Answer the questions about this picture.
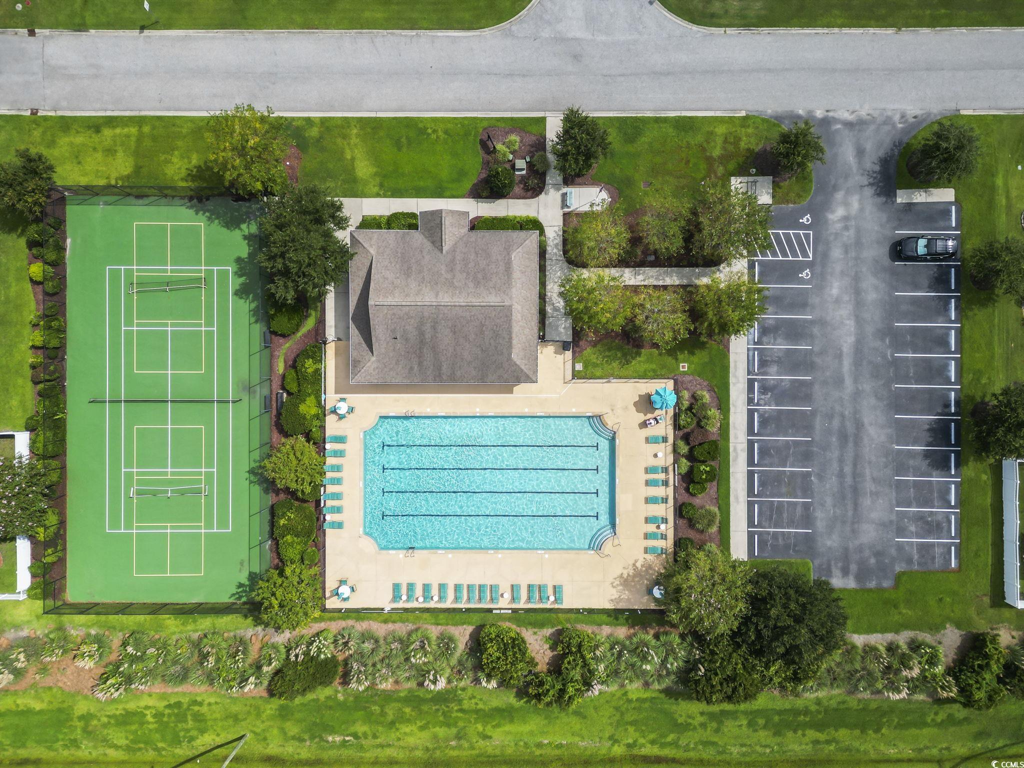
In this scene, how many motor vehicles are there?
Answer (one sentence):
The picture shows 1 motor vehicle.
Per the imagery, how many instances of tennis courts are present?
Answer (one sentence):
I count 1 tennis court.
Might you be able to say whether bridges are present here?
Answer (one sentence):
No, the scene contains no bridge.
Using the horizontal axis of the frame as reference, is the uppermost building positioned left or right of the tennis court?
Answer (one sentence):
In the image, the uppermost building sits on the right side of the tennis court.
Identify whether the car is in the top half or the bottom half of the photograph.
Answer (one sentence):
The car sits in the top half of the picture.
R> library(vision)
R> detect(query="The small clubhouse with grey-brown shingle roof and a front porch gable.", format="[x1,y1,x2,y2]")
[349,209,538,384]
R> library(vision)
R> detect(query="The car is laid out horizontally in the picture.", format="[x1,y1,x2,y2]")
[898,235,958,261]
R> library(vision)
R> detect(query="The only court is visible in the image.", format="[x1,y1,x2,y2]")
[66,195,271,603]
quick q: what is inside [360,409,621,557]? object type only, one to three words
swimming pool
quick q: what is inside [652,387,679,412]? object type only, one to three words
umbrella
